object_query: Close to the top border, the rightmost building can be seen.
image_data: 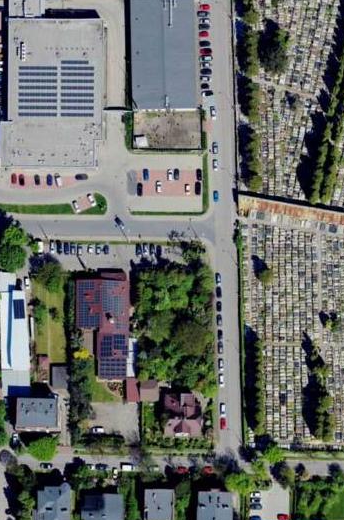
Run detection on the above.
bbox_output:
[130,0,199,114]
